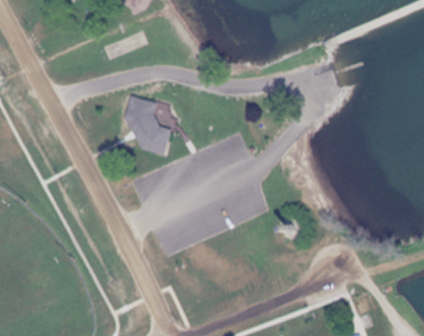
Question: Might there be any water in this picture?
Yes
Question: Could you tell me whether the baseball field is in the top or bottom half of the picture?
bottom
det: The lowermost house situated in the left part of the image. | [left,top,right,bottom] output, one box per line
[125,94,170,156]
